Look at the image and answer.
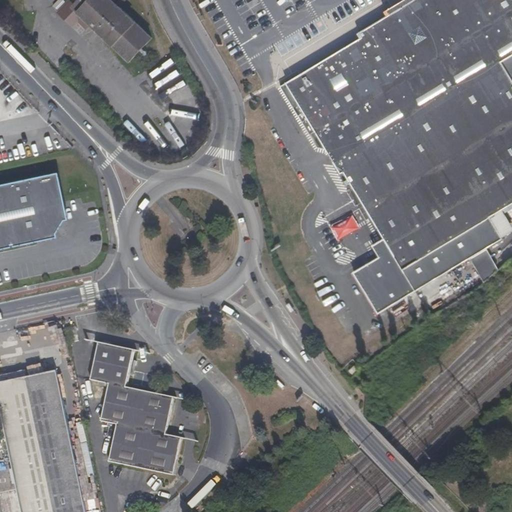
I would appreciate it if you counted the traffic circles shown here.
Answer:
1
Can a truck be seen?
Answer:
Yes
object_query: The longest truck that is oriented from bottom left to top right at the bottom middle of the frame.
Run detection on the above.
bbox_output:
[188,476,220,509]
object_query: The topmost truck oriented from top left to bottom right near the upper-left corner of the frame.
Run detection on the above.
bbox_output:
[2,40,36,73]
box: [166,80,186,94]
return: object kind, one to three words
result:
vehicle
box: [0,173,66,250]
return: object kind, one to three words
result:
building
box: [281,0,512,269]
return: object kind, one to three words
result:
building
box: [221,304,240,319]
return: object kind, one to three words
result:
vehicle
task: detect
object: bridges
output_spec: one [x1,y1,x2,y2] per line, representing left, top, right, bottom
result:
[342,411,458,512]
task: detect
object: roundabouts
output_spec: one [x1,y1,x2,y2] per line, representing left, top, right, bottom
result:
[122,170,256,306]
